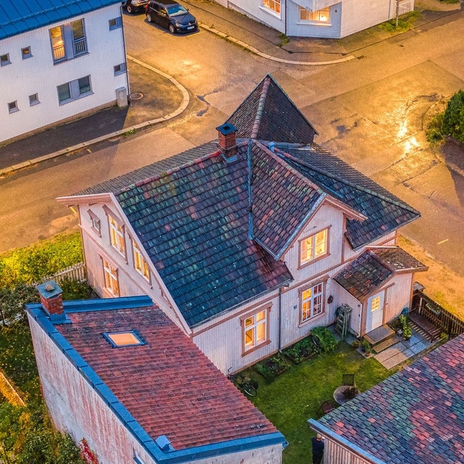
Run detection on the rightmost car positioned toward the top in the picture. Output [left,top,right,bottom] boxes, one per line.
[137,0,201,34]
